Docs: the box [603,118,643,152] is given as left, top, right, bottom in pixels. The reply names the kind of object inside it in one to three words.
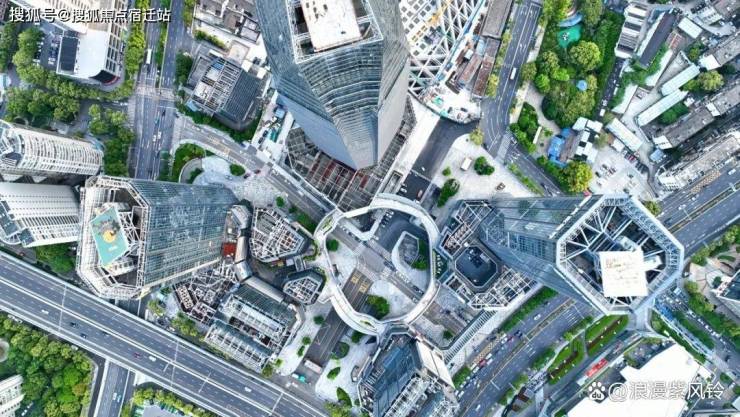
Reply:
shed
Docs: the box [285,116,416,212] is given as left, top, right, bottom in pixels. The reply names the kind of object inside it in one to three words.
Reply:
building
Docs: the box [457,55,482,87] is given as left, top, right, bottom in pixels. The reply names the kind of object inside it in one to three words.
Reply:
shed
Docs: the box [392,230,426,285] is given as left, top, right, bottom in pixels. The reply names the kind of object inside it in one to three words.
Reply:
building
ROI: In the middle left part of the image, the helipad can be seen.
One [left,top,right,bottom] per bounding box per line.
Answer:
[89,205,135,267]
